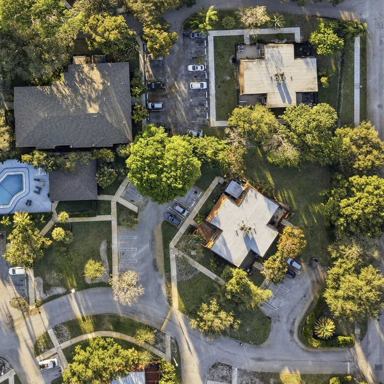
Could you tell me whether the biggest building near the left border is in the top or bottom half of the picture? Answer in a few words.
top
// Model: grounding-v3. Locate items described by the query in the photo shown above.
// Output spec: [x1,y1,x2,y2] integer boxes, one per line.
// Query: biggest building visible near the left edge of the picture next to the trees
[15,64,132,148]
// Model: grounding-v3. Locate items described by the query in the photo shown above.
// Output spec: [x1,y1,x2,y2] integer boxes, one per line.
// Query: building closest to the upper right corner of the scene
[235,40,318,109]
